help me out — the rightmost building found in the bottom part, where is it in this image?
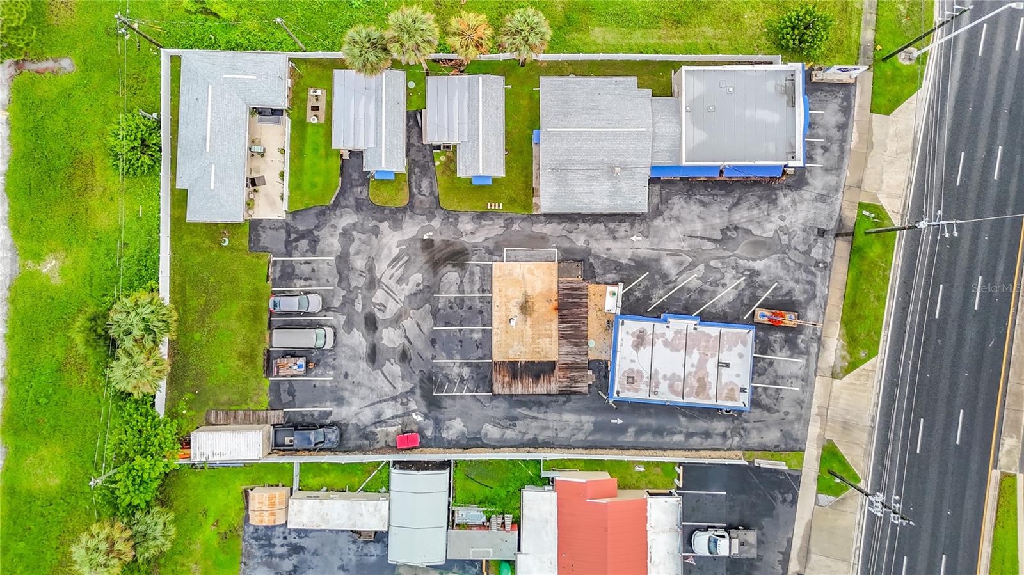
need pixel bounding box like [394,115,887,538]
[605,313,755,410]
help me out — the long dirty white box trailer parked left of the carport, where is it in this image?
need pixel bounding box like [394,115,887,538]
[288,493,389,536]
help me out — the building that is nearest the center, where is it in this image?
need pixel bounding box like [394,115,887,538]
[492,261,559,362]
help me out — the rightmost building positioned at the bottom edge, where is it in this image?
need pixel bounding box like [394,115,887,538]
[516,471,683,575]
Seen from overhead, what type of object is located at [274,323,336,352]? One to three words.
van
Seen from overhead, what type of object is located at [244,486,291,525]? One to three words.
shed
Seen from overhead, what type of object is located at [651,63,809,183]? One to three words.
building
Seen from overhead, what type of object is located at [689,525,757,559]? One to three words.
truck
